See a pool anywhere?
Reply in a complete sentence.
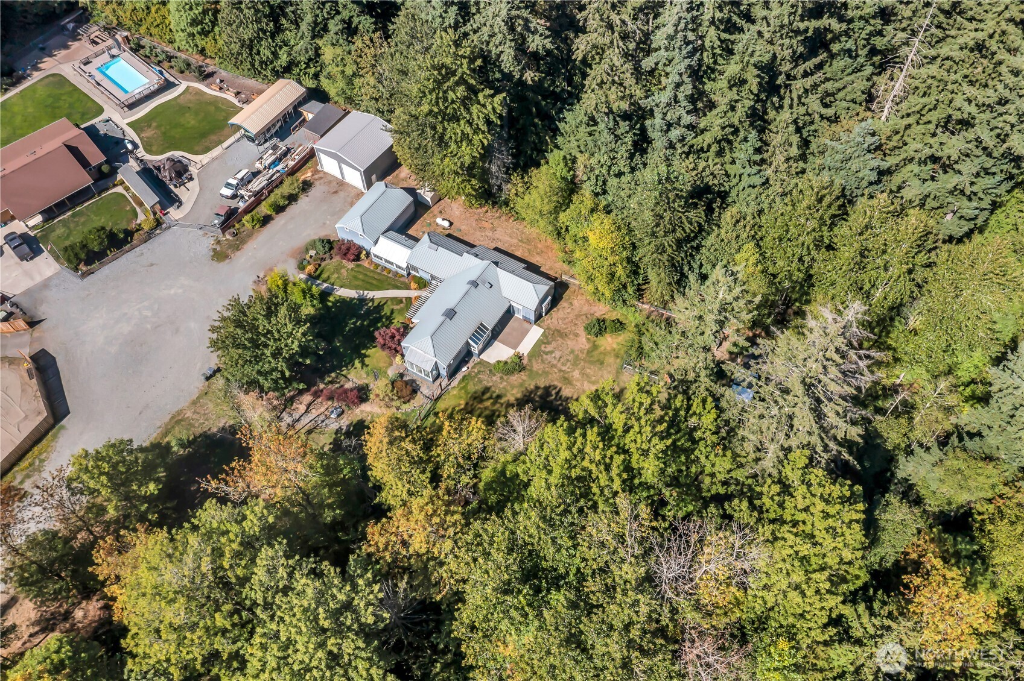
Yes, the frame does contain a pool.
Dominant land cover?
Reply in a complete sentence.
What you mostly see from above here is trees.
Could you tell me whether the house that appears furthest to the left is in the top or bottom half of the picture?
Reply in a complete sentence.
The house that appears furthest to the left is in the top half of the image.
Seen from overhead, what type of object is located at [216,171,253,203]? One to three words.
truck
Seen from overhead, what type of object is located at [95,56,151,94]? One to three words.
swimming pool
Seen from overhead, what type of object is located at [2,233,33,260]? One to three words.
truck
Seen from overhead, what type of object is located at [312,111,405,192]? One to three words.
building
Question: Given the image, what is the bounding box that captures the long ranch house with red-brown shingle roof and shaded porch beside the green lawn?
[0,117,110,244]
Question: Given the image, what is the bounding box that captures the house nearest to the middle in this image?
[401,231,555,382]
